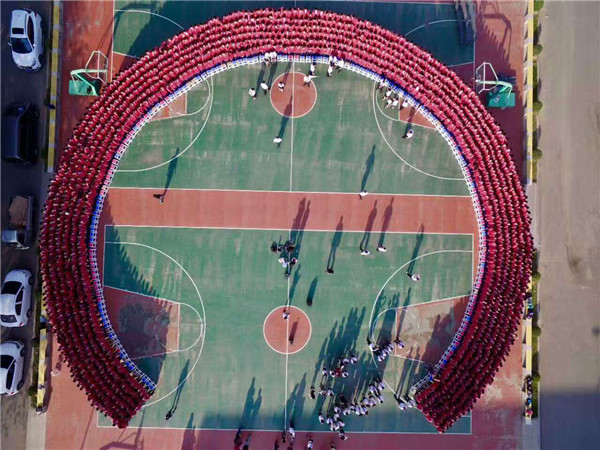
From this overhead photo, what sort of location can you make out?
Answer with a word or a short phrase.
sports ground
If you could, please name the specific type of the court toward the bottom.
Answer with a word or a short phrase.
basketball court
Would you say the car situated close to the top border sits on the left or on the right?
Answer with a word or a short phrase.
left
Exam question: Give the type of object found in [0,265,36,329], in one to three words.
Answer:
car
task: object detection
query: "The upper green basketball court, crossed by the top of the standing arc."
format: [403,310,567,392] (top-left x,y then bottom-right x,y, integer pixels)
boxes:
[107,0,474,196]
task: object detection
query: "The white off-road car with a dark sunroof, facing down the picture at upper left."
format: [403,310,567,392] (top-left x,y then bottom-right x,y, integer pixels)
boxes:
[6,6,46,71]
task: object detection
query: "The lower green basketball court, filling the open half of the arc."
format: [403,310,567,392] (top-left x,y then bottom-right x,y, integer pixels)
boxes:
[97,226,473,434]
